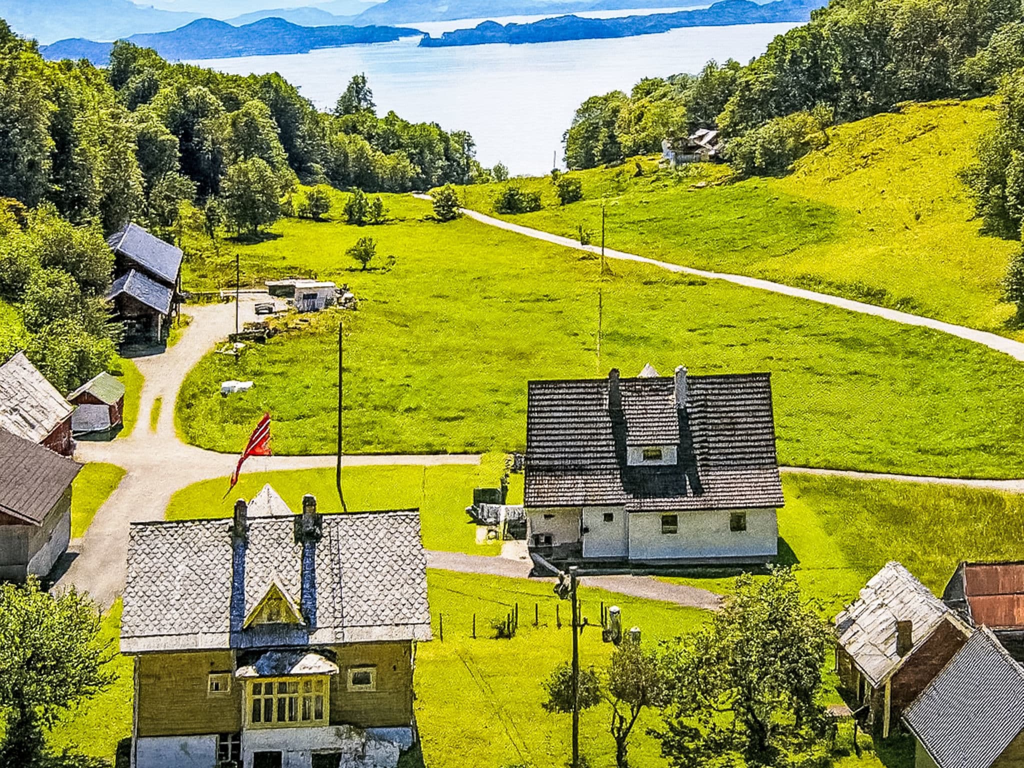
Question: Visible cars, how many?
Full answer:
The picture shows just 1 car.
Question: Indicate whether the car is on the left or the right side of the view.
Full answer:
The car is on the left side of the image.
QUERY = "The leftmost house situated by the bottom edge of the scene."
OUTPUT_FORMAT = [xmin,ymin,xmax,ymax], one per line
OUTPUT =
[115,474,429,768]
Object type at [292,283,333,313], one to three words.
shed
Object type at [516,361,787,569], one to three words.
house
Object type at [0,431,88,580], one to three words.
building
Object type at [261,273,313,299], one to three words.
building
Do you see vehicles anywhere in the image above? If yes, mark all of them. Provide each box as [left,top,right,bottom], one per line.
[253,295,276,318]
